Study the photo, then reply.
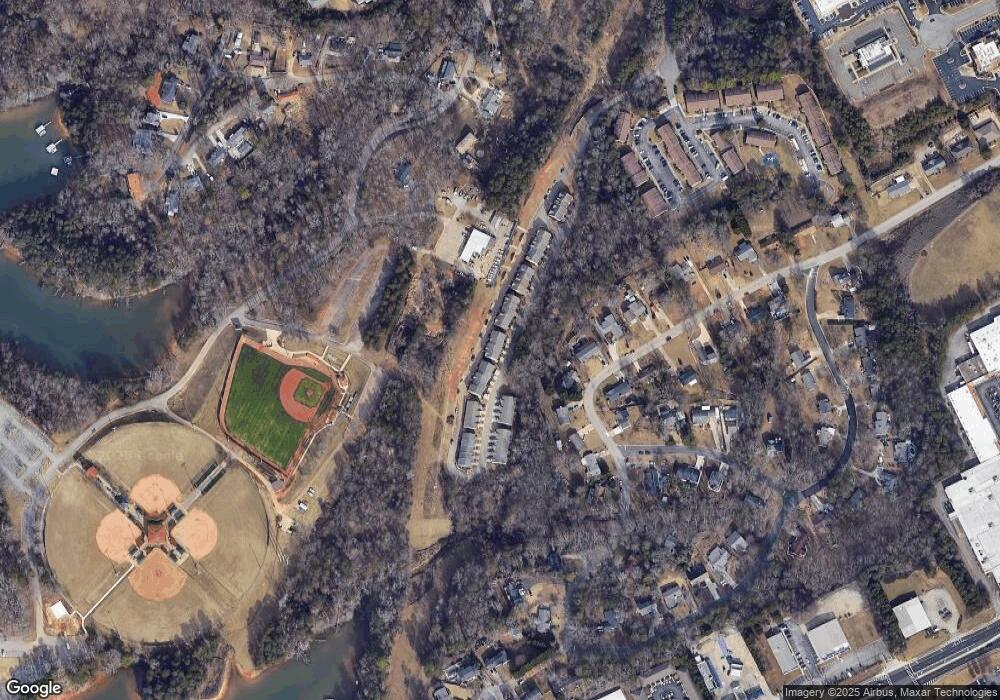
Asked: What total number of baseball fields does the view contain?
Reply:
5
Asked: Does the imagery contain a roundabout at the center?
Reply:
No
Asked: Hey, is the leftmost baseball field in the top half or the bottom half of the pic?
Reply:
bottom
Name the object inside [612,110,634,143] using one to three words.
building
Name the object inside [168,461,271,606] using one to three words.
baseball field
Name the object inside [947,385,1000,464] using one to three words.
building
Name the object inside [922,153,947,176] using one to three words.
house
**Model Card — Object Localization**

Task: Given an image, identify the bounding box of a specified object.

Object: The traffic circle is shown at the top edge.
[919,15,953,50]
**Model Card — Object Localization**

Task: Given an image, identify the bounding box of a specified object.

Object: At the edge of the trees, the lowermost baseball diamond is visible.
[85,545,232,645]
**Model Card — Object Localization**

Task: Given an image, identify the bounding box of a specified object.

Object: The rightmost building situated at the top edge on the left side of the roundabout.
[853,27,895,72]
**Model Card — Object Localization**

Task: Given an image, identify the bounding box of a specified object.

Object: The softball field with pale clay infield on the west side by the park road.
[45,458,146,606]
